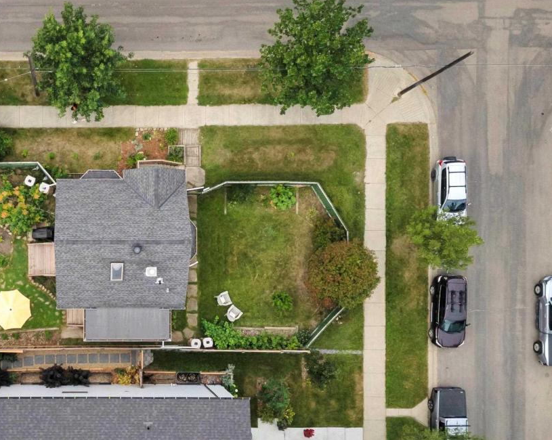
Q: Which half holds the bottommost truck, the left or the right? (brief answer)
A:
right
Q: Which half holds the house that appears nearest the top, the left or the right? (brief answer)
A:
left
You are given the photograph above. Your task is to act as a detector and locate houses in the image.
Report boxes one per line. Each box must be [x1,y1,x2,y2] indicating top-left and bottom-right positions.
[53,159,203,348]
[0,380,258,440]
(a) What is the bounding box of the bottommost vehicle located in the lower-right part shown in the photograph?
[428,385,472,440]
